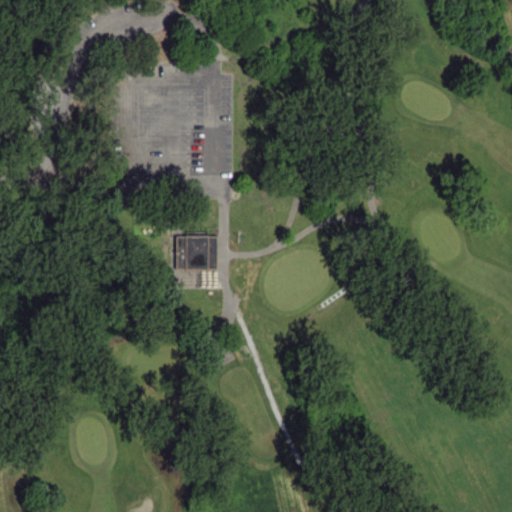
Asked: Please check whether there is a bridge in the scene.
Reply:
No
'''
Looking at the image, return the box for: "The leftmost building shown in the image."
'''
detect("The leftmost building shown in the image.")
[176,236,218,270]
